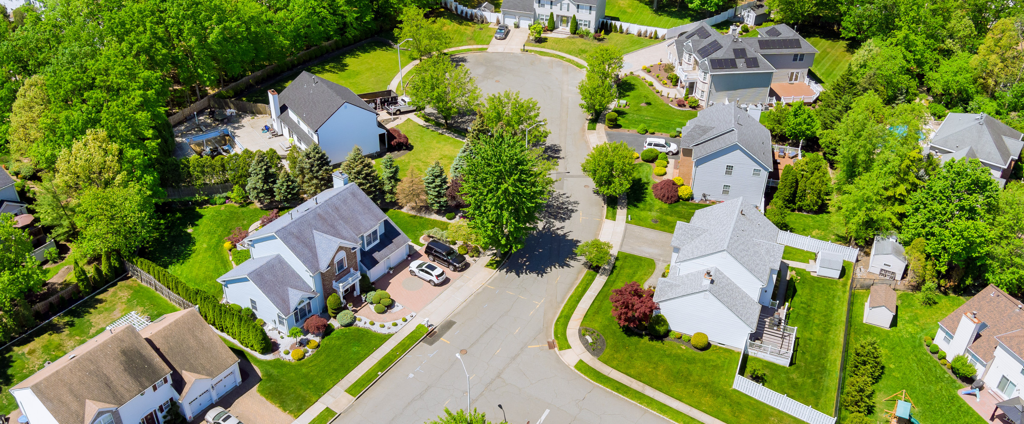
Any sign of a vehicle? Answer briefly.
Yes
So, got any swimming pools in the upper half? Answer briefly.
Yes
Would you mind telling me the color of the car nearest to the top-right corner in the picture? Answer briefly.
white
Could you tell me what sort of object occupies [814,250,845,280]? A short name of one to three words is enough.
shed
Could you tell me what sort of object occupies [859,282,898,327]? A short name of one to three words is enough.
shed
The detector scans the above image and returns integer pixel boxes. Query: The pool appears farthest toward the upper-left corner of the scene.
[188,127,247,162]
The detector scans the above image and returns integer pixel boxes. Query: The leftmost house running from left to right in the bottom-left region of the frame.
[6,310,241,424]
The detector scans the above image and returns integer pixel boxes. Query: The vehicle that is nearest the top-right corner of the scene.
[644,133,680,153]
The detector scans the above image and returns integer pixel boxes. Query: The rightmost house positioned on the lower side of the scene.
[934,283,1024,397]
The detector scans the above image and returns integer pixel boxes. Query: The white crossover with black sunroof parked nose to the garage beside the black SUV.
[408,258,450,284]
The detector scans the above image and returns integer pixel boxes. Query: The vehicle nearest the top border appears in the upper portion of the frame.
[493,24,511,37]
